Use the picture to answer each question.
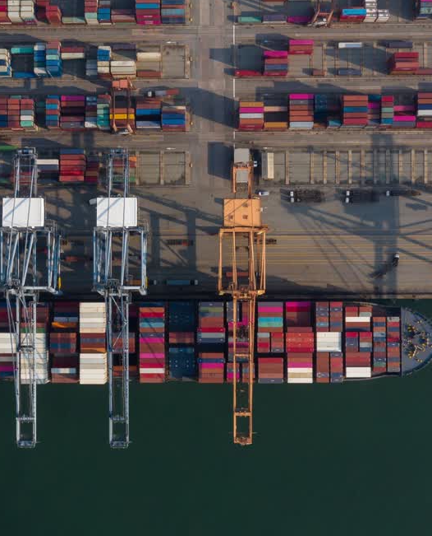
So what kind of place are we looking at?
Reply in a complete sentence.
This image shows a port.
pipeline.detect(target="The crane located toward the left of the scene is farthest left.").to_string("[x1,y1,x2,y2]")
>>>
[0,147,76,446]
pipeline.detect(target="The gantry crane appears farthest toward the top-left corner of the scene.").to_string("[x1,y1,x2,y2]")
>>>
[110,74,136,138]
